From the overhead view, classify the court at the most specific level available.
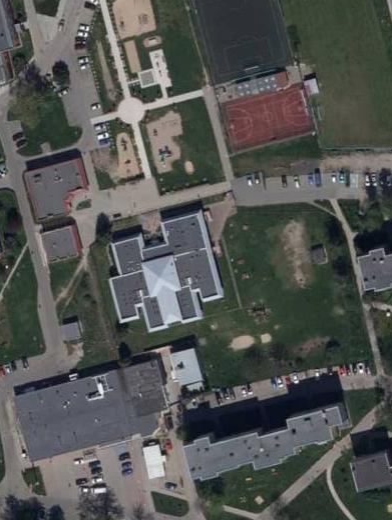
basketball court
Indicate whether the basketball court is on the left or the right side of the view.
right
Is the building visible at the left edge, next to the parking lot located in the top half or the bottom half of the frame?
bottom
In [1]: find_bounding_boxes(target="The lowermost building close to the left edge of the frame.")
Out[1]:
[15,370,135,462]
